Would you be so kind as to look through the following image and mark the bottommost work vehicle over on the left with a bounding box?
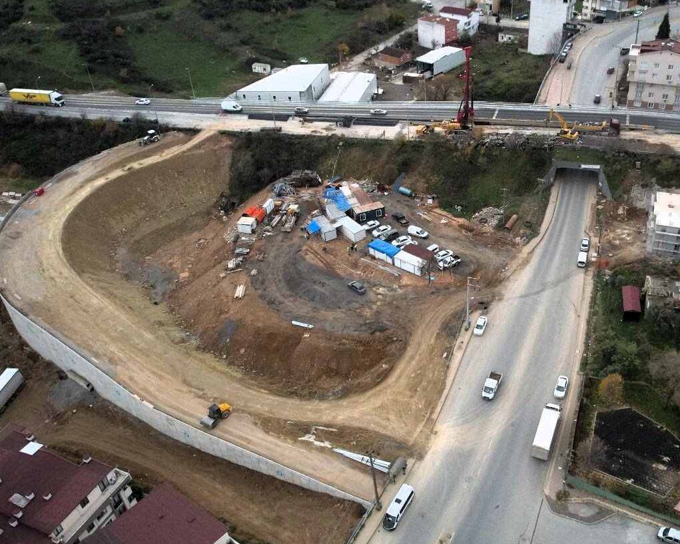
[195,398,236,435]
